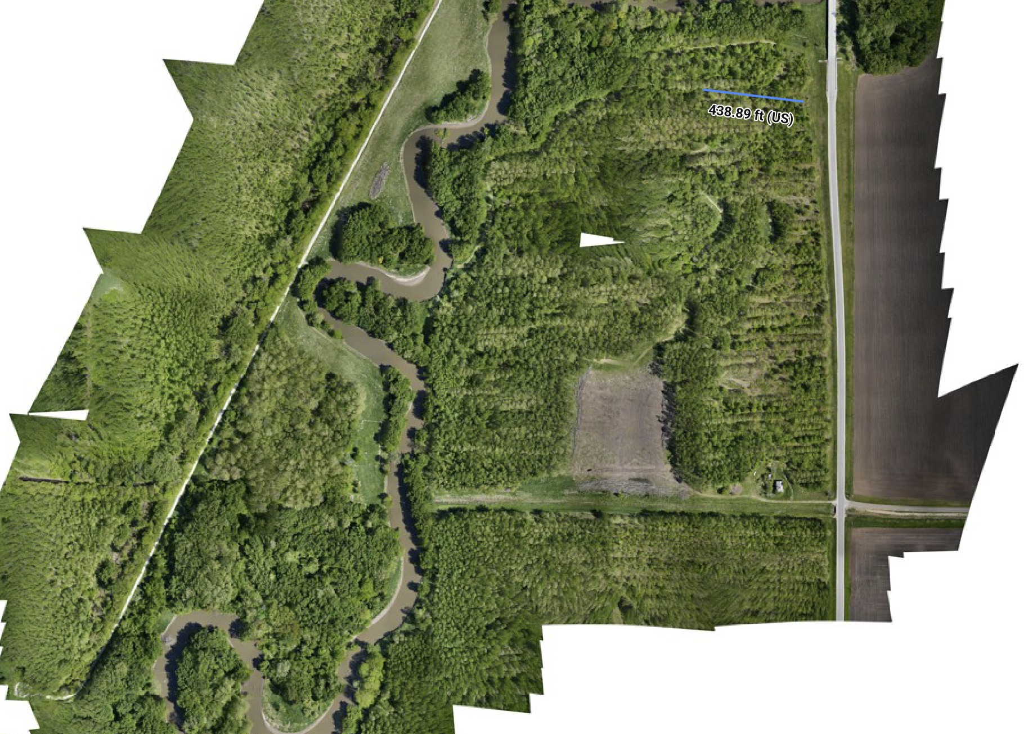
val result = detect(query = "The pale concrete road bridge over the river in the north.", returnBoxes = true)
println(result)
[819,0,844,91]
